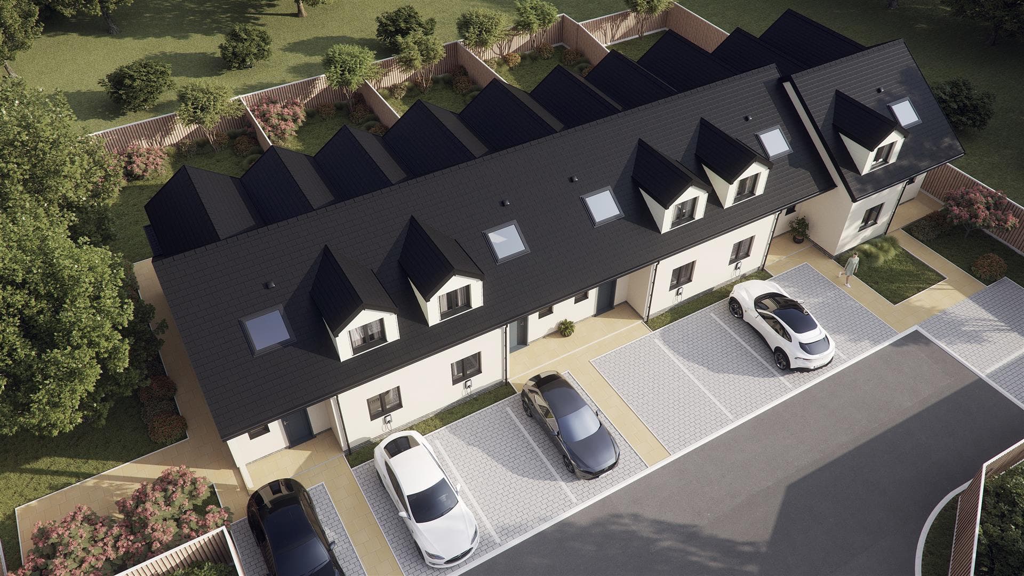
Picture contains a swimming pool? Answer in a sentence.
No, this view has no swimming pool in it.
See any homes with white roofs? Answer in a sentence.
No, the photo shows no home with a white roof.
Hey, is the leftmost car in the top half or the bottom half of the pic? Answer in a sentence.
The leftmost car sits in the bottom half of the picture.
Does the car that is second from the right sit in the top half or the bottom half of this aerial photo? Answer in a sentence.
The car that is second from the right sits in the bottom half of the picture.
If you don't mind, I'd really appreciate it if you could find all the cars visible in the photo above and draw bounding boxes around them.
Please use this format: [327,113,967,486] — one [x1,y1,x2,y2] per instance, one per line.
[372,429,478,568]
[251,483,346,576]
[521,369,622,480]
[730,280,834,367]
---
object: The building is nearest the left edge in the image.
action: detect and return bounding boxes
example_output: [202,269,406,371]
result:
[141,145,430,495]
